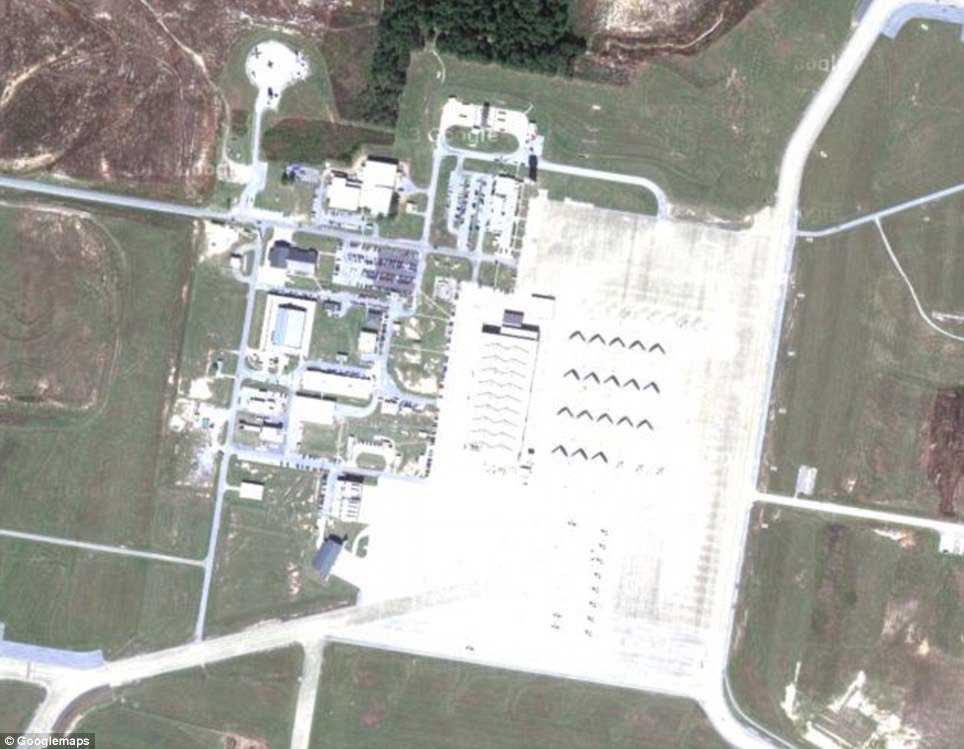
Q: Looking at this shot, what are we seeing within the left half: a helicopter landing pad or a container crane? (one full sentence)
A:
It is a helicopter landing pad that can be seen within the left half.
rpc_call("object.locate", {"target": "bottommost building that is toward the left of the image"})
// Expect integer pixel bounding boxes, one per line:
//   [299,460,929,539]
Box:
[310,539,345,582]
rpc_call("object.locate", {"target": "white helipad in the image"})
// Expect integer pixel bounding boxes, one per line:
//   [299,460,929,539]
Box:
[245,40,310,162]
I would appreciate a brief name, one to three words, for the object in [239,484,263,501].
building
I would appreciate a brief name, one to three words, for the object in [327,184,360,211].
building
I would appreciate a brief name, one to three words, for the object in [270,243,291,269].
house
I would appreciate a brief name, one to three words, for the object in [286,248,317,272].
house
